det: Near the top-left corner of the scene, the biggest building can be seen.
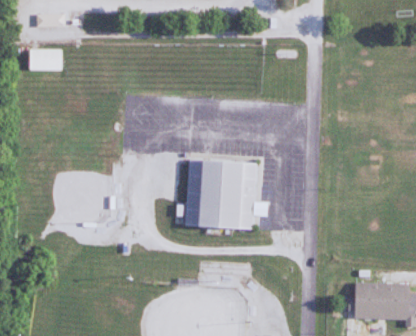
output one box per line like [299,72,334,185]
[28,48,62,72]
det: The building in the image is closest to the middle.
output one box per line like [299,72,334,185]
[175,160,270,229]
